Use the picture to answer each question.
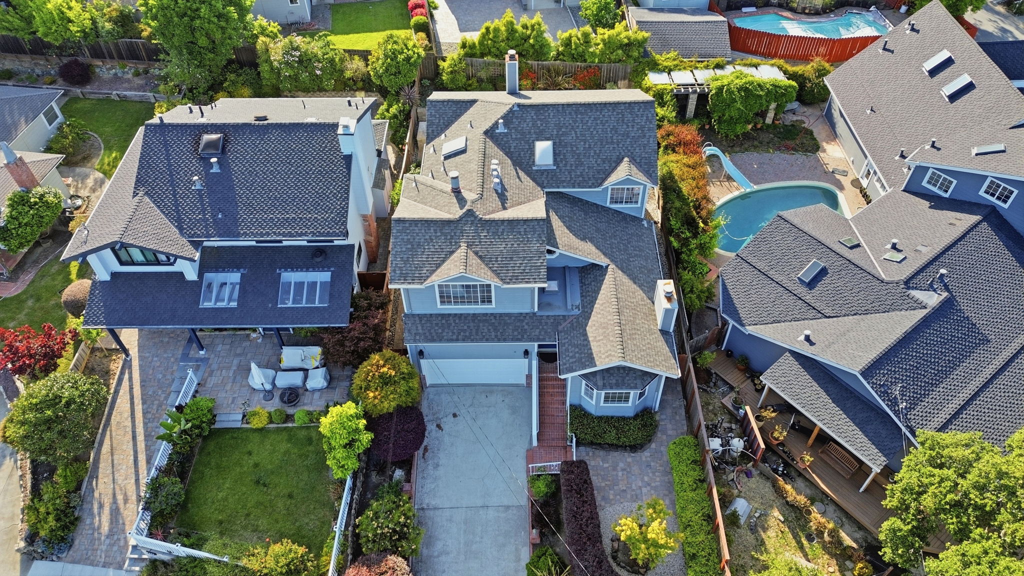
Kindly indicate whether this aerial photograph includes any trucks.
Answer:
No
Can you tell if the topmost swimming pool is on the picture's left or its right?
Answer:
right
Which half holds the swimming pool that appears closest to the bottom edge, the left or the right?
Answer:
right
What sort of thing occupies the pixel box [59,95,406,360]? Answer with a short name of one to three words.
house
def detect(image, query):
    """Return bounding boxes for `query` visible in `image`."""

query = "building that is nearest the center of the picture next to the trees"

[388,47,684,423]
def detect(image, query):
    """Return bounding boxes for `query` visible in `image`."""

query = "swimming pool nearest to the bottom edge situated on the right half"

[713,181,854,259]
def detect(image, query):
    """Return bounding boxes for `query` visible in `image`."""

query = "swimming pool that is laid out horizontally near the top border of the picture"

[732,9,891,46]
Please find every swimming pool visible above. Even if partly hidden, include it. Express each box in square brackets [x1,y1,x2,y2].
[713,181,854,259]
[732,9,891,46]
